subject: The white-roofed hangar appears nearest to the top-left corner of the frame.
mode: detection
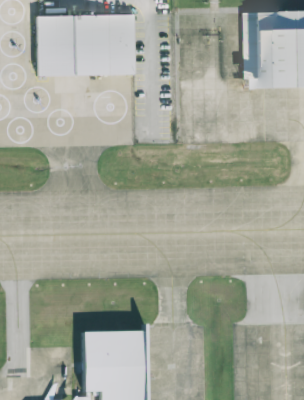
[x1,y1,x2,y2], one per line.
[36,16,136,78]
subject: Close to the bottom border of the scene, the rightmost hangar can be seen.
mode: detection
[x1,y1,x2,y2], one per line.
[82,326,150,400]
